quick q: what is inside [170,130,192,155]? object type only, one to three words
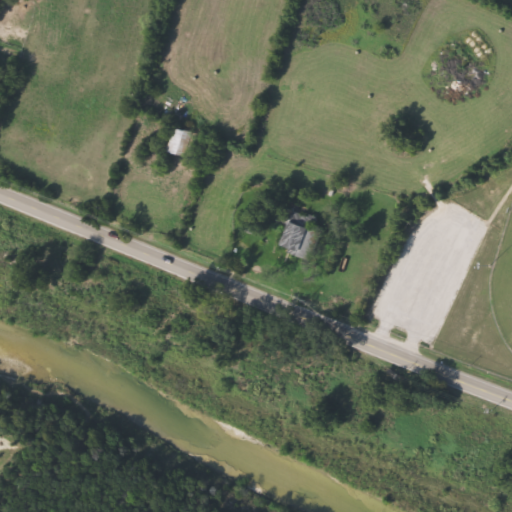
barn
